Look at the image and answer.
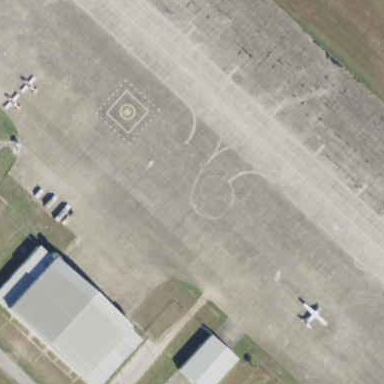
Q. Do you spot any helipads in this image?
Yes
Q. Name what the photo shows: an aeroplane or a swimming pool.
aeroplane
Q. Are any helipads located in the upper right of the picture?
No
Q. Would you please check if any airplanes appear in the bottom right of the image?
Yes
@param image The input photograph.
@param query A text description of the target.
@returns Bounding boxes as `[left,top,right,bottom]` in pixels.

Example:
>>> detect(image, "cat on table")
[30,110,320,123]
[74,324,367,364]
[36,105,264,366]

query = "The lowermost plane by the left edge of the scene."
[6,95,20,110]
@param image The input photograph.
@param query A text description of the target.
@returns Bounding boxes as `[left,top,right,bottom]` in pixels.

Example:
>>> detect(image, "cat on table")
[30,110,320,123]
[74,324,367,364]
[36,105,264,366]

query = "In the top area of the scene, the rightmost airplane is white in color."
[22,78,37,94]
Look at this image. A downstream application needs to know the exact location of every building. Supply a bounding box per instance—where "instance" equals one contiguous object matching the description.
[0,244,142,384]
[176,334,240,384]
